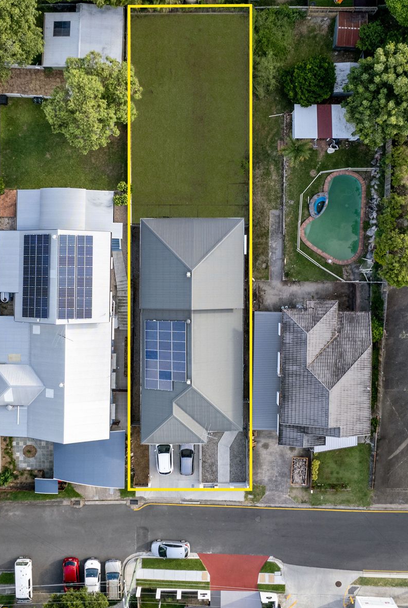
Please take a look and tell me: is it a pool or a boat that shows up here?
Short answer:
pool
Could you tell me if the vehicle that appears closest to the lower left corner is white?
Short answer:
Yes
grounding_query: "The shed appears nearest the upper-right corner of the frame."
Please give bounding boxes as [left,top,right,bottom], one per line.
[333,11,367,54]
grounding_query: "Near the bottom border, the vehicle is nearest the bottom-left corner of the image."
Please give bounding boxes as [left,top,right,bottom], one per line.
[11,553,35,604]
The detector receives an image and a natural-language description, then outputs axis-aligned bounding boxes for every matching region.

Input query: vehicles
[175,444,197,475]
[11,553,35,604]
[81,554,104,602]
[150,537,191,561]
[60,555,82,599]
[101,552,124,607]
[153,444,176,476]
